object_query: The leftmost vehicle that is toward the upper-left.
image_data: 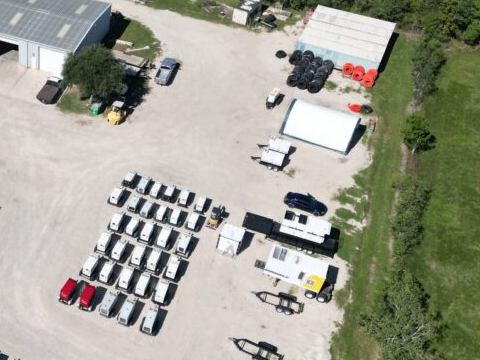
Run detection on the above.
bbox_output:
[34,76,68,105]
